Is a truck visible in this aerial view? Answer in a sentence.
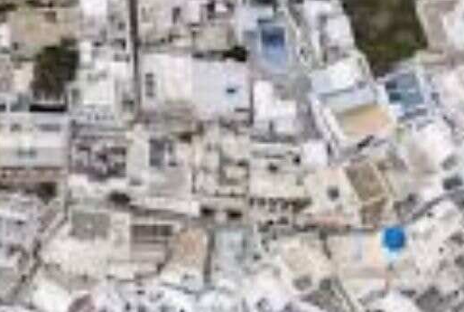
No, there is no truck in the image.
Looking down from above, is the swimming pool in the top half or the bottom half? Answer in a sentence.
You can find the swimming pool in the top half.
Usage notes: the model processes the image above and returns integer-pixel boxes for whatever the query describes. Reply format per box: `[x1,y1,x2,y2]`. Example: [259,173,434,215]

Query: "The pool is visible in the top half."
[259,23,287,73]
